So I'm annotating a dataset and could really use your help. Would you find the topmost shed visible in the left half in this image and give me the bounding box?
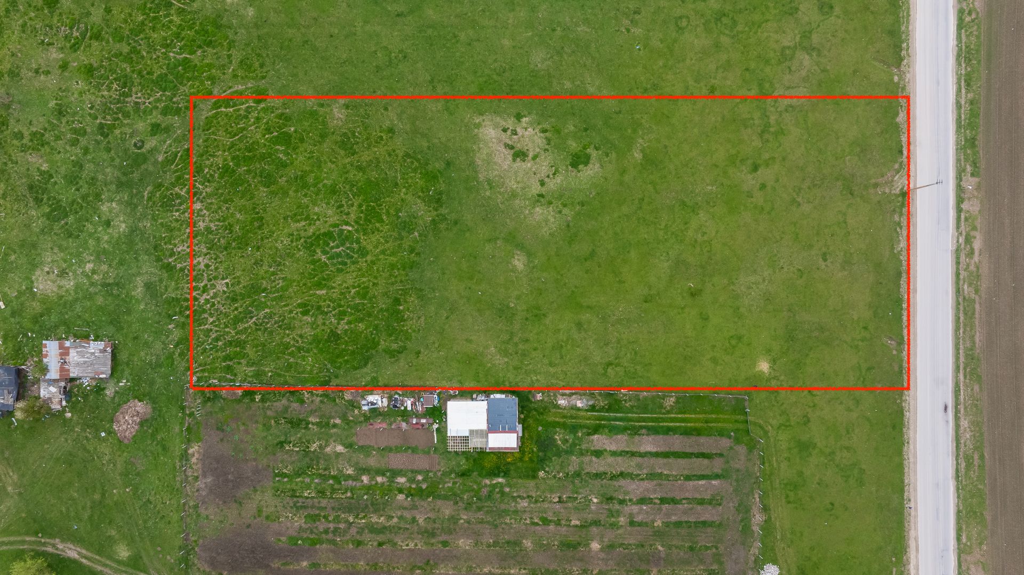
[41,341,114,379]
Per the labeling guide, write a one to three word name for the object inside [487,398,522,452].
house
